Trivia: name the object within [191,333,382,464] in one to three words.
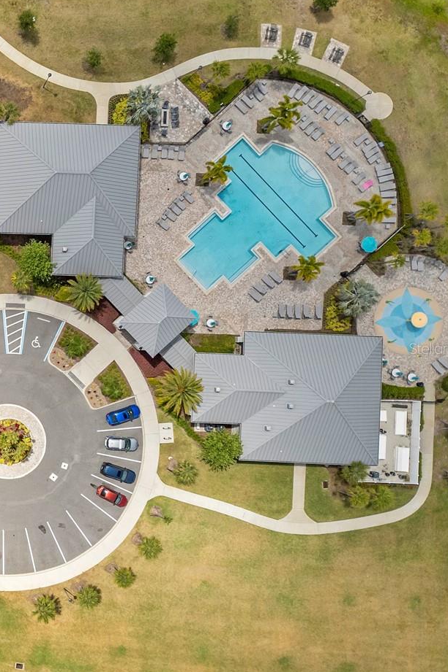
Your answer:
building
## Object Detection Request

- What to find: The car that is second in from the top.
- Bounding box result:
[104,437,139,454]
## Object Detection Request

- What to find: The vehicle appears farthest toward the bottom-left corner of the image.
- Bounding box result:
[95,484,128,508]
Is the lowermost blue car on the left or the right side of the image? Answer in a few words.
left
